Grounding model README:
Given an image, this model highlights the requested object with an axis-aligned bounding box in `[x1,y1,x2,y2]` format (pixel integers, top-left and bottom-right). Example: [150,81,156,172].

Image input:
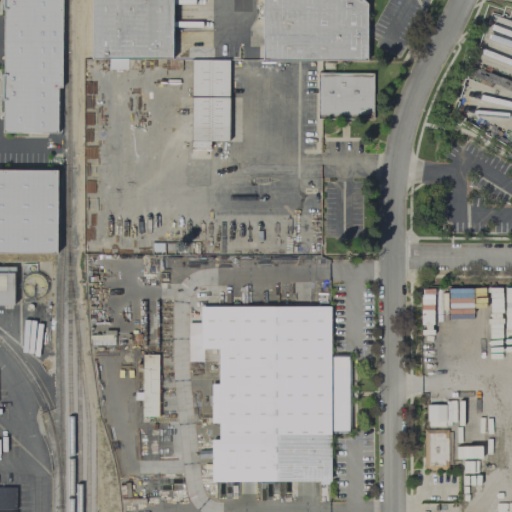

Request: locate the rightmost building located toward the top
[320,73,376,119]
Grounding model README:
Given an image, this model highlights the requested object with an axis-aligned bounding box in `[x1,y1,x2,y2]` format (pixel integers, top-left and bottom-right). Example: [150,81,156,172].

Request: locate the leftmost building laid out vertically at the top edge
[3,0,64,133]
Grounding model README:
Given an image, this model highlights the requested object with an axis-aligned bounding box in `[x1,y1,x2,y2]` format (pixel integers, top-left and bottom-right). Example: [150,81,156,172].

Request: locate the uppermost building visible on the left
[93,0,175,59]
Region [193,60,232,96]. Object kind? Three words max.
shed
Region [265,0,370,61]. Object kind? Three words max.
building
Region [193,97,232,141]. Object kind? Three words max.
shed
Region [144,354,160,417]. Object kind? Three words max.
building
